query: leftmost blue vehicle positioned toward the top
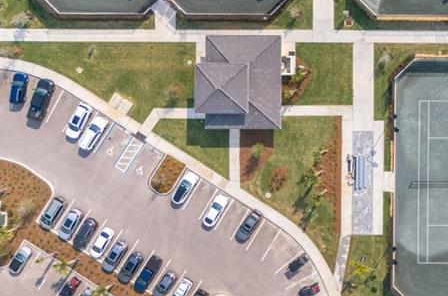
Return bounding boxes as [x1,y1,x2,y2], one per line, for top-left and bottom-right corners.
[10,72,29,105]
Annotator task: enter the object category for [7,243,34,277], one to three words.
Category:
truck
